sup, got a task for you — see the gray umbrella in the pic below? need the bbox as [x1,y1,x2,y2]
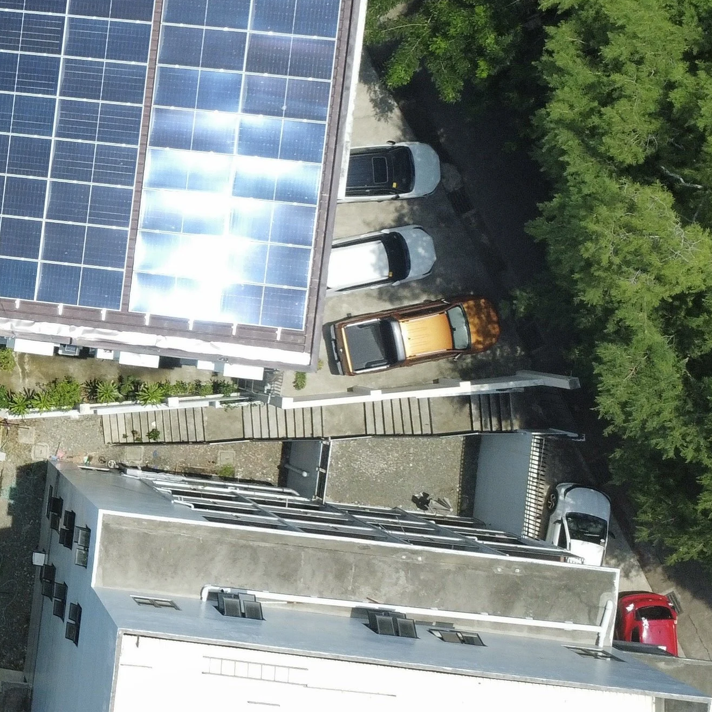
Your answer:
[430,496,451,509]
